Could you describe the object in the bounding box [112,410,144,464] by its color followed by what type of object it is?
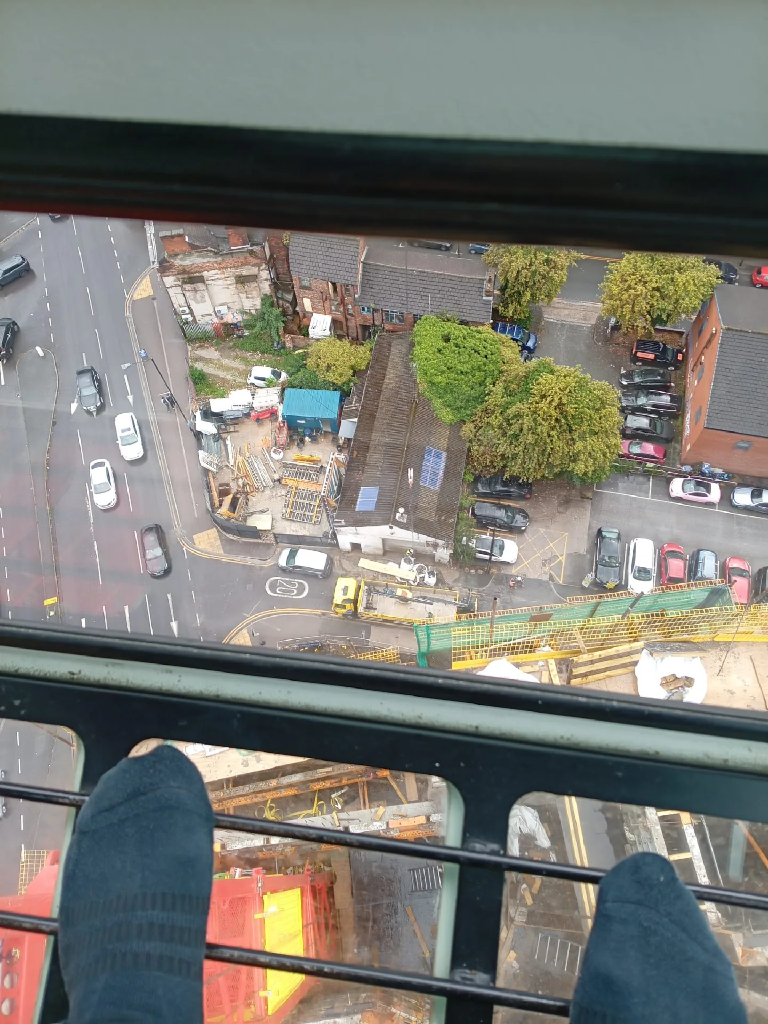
white car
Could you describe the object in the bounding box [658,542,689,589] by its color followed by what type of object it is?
red car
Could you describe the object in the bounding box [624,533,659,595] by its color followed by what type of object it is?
white car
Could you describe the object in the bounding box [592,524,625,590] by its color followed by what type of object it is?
gray car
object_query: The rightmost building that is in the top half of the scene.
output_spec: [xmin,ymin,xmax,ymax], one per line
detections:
[685,288,768,471]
